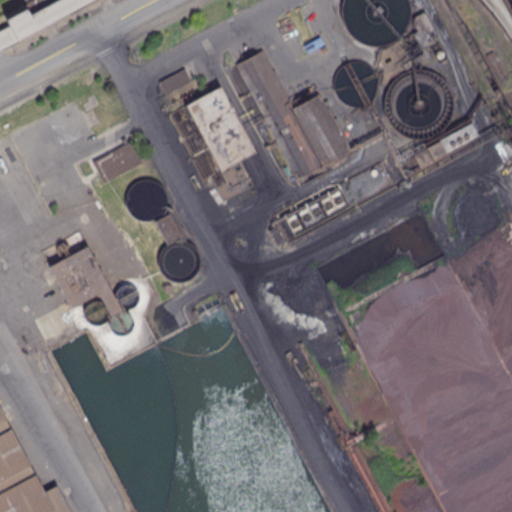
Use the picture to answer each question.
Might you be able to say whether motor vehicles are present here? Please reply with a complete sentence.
Yes, a motor vehicle is visible in the scene.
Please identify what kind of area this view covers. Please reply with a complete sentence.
The picture captures an industrial area.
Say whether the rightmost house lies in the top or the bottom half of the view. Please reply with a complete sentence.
The rightmost house is in the top half of the image.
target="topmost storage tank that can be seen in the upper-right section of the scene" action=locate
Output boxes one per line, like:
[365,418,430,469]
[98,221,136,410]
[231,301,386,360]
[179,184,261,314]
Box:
[342,0,412,48]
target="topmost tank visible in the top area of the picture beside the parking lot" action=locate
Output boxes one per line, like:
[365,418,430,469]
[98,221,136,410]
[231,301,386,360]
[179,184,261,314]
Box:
[126,180,168,221]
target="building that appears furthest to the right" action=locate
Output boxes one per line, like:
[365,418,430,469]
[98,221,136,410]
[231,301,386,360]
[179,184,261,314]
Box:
[442,126,479,154]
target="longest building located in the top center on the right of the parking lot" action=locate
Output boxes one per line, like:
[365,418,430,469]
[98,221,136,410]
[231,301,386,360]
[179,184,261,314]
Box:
[236,48,321,179]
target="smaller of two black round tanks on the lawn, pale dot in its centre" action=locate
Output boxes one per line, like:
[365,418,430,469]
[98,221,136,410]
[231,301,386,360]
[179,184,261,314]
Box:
[160,243,198,282]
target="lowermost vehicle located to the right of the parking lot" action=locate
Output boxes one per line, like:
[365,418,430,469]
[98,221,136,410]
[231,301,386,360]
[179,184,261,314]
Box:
[229,292,245,312]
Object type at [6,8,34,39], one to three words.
building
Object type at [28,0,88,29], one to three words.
building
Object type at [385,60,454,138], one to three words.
storage tank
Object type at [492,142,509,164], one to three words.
vehicle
